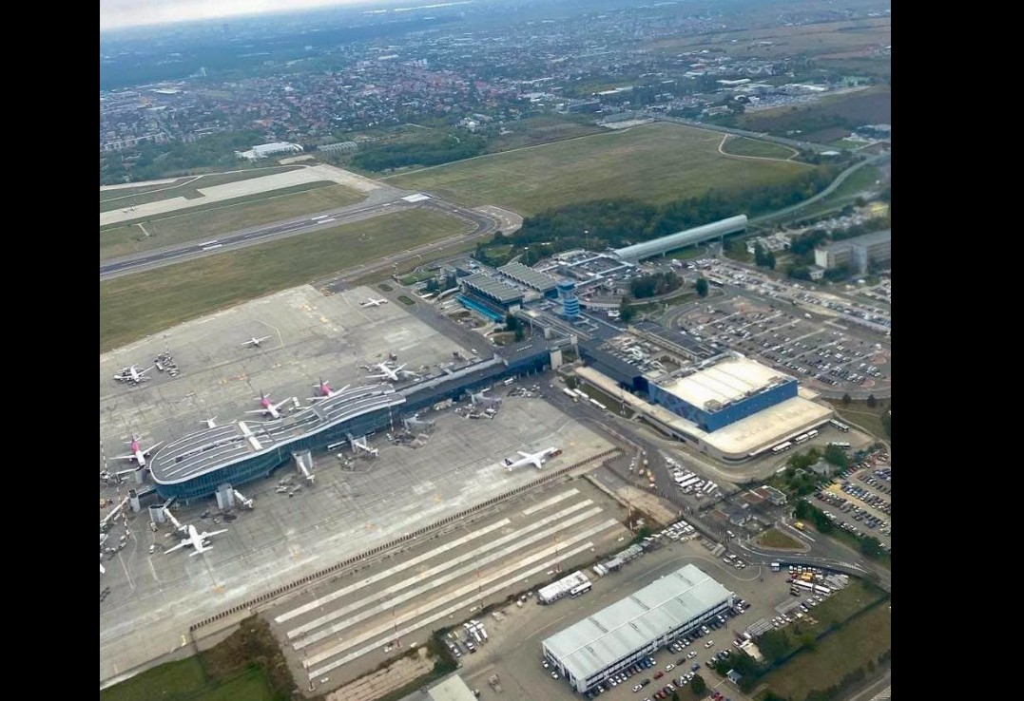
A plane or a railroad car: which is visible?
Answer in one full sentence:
It is a plane that can be seen here.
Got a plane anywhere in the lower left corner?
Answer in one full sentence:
Yes, a plane appears in the lower left corner.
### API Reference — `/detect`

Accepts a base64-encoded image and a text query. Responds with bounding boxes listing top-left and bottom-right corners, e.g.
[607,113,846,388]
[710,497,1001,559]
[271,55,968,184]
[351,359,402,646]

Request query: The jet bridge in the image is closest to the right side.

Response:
[465,389,503,410]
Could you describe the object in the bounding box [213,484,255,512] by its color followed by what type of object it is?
gray jet bridge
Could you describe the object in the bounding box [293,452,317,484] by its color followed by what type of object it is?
gray jet bridge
